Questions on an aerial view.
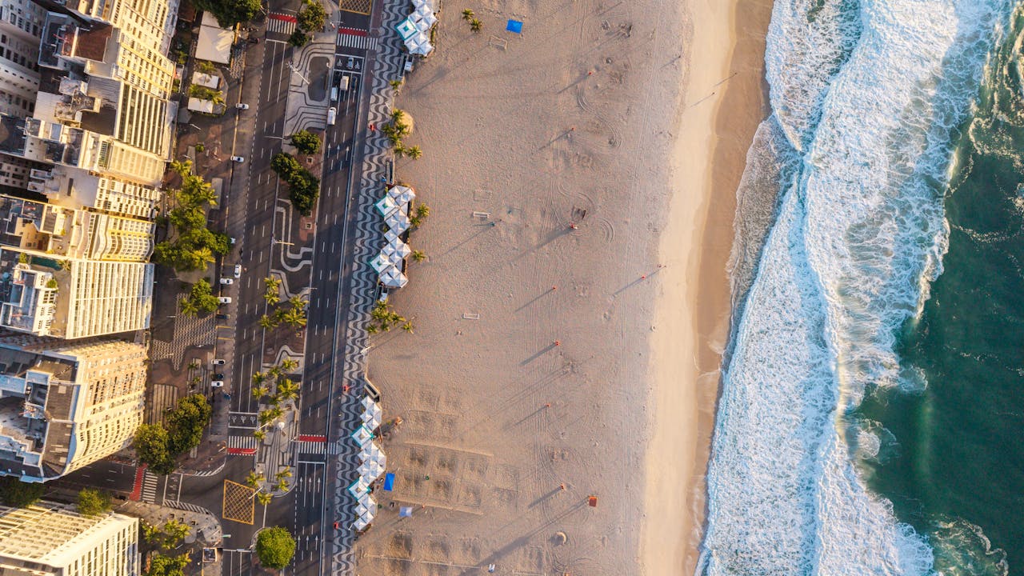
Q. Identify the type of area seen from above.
beach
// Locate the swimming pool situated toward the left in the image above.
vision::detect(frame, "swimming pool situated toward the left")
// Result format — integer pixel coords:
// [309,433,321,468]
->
[30,257,62,270]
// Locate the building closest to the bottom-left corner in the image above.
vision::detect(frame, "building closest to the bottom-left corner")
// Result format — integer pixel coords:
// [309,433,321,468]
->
[0,497,140,576]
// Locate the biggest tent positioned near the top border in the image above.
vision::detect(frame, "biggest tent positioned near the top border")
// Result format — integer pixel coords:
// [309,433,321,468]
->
[195,26,235,67]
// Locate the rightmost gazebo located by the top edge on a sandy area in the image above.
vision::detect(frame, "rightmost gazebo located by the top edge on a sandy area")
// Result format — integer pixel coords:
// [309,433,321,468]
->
[506,19,523,34]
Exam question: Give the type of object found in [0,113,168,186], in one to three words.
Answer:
building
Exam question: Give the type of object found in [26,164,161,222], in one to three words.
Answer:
building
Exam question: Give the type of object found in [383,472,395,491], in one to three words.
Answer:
gazebo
